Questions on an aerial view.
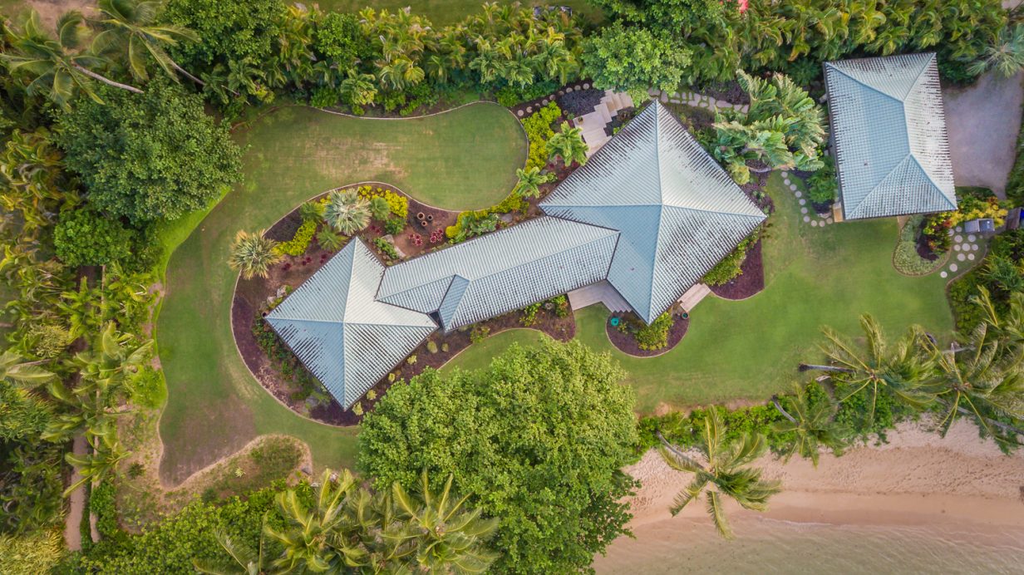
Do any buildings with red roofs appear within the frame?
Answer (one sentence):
No, there is no building with a red roof in the image.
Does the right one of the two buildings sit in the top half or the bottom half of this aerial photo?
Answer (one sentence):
The top half of the photo is where the right one of the two buildings is.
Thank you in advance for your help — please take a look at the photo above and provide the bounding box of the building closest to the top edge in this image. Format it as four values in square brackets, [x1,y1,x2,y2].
[818,50,959,223]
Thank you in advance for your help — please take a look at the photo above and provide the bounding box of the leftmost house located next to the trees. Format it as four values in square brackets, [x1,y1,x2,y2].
[264,103,769,411]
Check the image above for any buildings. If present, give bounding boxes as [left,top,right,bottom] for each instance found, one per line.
[818,50,959,223]
[264,103,769,411]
